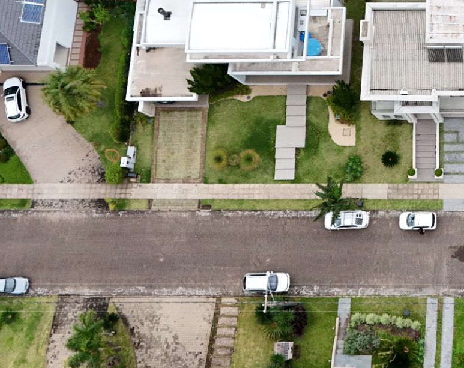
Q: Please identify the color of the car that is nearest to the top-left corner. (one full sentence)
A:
In this view, the car that is nearest to the top-left corner is white.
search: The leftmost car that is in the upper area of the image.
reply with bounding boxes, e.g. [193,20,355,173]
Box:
[2,80,28,120]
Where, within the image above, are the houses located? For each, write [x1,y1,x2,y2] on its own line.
[358,0,464,123]
[126,0,348,116]
[0,0,73,80]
